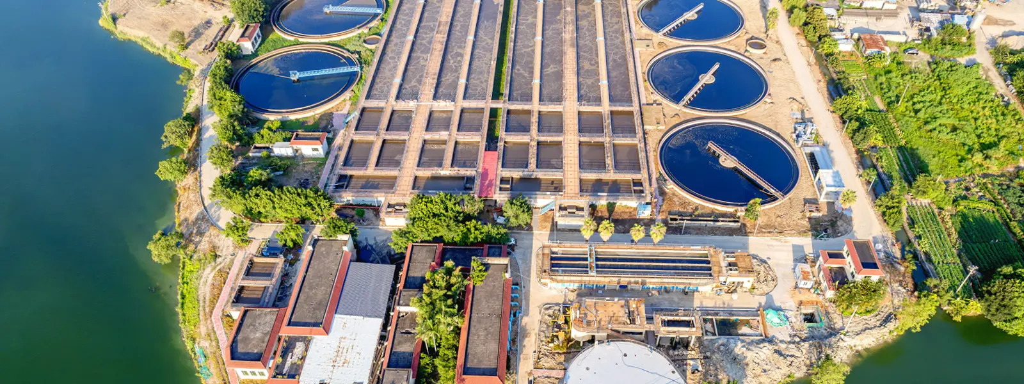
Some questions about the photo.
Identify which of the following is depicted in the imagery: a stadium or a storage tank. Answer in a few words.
storage tank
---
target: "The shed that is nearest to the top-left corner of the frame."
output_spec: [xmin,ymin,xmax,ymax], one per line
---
[234,22,264,54]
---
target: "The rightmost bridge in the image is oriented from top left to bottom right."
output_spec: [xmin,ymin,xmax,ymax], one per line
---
[700,137,787,200]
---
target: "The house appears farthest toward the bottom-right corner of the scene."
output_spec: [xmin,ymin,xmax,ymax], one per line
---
[817,238,885,299]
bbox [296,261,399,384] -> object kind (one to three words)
shed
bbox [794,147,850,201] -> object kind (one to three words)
building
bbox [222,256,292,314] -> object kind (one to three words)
water tank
